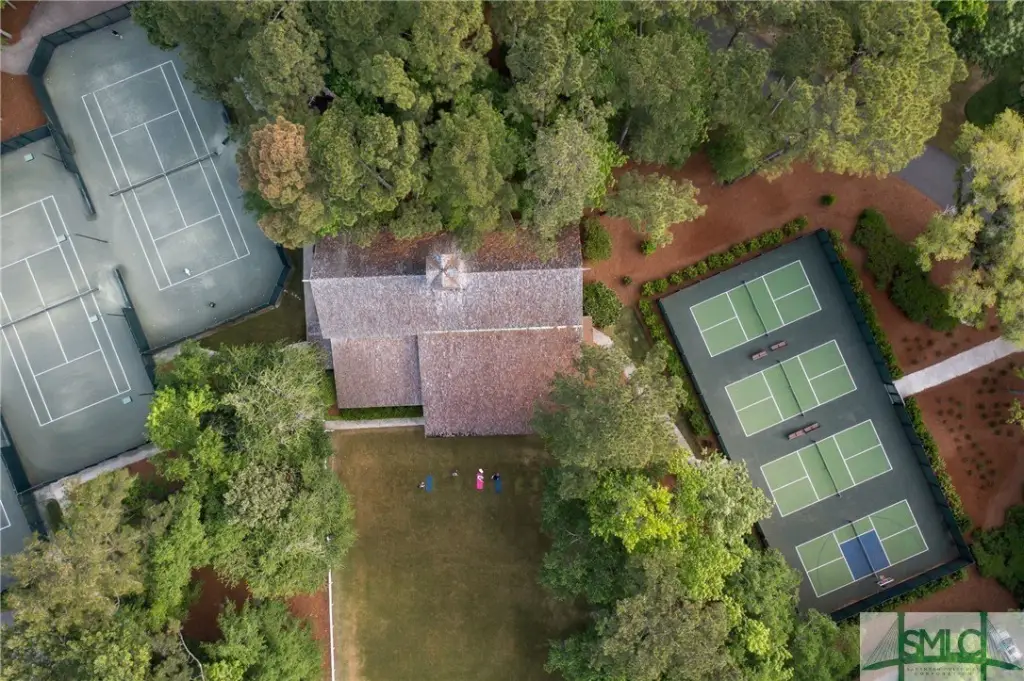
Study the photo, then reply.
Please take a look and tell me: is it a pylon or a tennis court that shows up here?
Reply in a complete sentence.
I can see a tennis court in this picture.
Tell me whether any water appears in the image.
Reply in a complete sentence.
No, water can't be seen anywhere here.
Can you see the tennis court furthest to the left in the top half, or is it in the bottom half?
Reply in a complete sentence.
The tennis court furthest to the left is in the bottom half of the image.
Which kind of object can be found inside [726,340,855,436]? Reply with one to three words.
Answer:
sports court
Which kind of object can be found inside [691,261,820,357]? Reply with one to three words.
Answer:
sports court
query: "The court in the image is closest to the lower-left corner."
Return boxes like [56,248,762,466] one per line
[0,440,49,592]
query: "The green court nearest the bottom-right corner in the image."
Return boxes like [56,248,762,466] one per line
[797,500,927,596]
